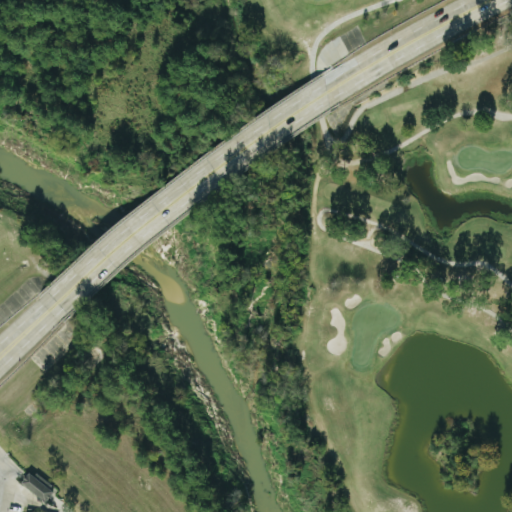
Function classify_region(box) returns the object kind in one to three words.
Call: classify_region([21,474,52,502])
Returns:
house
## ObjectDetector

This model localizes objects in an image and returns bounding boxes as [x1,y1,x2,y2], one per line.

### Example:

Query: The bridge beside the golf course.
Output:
[42,77,338,317]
